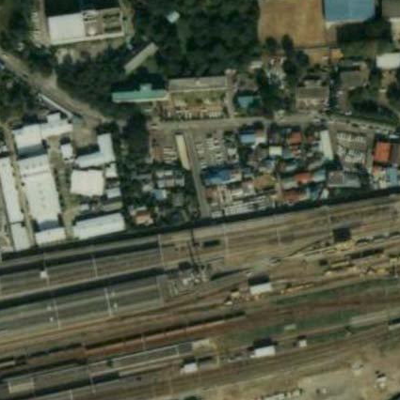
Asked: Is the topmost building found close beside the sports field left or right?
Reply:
right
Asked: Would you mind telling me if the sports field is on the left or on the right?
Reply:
right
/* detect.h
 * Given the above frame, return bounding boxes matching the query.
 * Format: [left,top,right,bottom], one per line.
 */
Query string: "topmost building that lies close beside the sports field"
[325,0,375,21]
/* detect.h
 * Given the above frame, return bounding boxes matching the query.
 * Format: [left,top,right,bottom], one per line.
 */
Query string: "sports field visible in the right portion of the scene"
[259,0,327,48]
